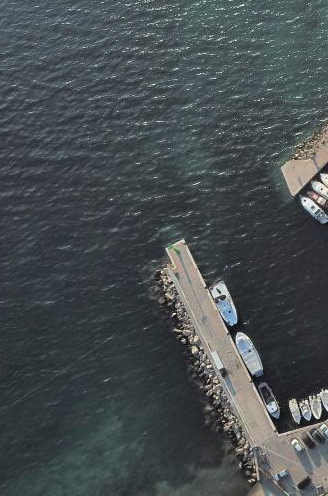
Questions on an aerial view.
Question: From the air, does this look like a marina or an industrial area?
marina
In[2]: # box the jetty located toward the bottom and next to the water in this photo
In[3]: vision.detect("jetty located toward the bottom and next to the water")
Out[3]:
[166,240,279,451]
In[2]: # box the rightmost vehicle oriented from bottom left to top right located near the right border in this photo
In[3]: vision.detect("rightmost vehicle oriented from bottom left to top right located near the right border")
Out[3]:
[295,474,313,490]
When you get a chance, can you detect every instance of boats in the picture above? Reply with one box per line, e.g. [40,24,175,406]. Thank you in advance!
[256,382,278,418]
[301,399,311,423]
[317,168,328,187]
[237,333,264,379]
[306,188,328,212]
[310,395,321,420]
[322,388,328,410]
[307,179,328,202]
[298,195,328,226]
[208,282,235,327]
[289,398,300,426]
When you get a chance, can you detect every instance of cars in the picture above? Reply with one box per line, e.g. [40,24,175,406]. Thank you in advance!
[295,474,313,490]
[320,422,328,439]
[291,436,303,453]
[310,426,324,445]
[302,431,316,450]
